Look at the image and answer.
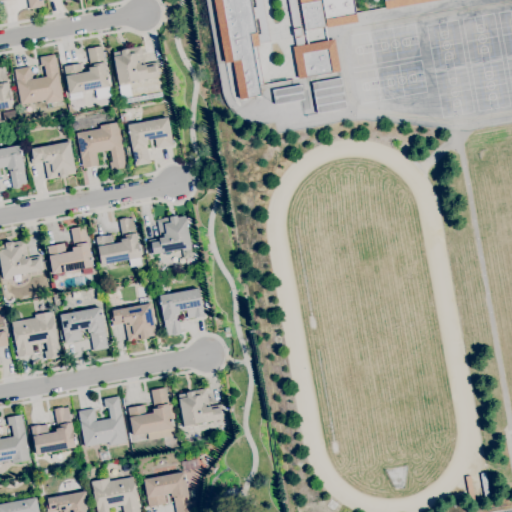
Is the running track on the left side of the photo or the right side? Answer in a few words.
right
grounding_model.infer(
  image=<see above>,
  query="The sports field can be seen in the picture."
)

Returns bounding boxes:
[287,158,458,498]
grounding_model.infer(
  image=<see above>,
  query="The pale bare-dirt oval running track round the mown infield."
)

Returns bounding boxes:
[268,140,483,512]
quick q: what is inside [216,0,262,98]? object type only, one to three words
building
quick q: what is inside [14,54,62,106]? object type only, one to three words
house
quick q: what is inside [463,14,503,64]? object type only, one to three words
basketball court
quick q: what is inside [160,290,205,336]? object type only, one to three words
house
